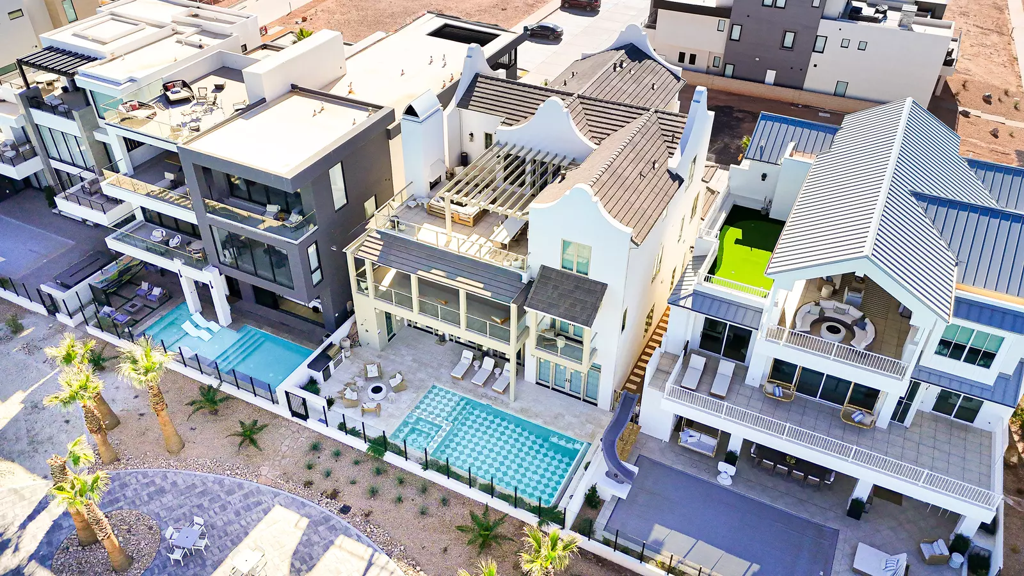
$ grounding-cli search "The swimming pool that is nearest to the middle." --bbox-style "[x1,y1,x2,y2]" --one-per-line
[390,385,602,509]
